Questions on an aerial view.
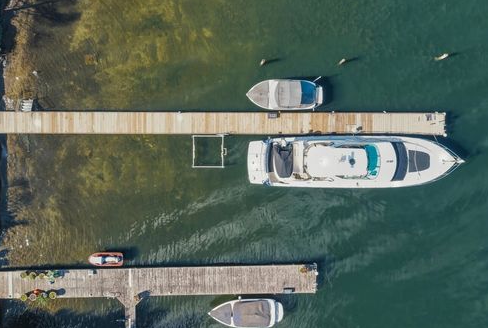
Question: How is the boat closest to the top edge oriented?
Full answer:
What the image shows is the boat closest to the top edge lying horizontally.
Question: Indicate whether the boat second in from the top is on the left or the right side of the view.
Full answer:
The boat second in from the top sits on the right side.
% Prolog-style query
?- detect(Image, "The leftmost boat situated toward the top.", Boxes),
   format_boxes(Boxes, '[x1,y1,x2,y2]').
[245,75,322,111]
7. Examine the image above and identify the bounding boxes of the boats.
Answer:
[245,75,322,111]
[207,298,284,328]
[247,135,469,188]
[88,252,124,266]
